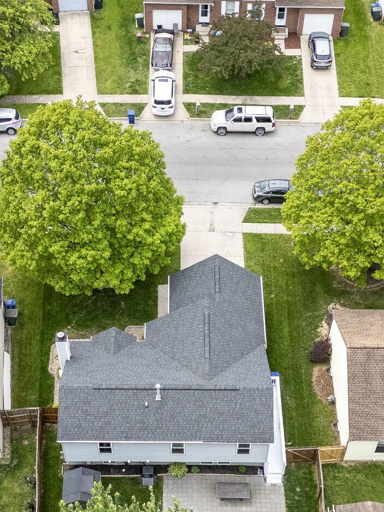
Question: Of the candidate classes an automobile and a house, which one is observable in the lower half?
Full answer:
It is a house that can be seen in the lower half.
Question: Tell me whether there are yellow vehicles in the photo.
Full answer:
No, I find no yellow vehicle anywhere in the image.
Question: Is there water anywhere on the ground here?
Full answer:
No, no water is visible.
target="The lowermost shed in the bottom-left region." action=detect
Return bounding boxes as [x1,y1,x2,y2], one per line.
[61,468,102,512]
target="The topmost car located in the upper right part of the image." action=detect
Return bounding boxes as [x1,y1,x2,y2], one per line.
[308,33,334,67]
